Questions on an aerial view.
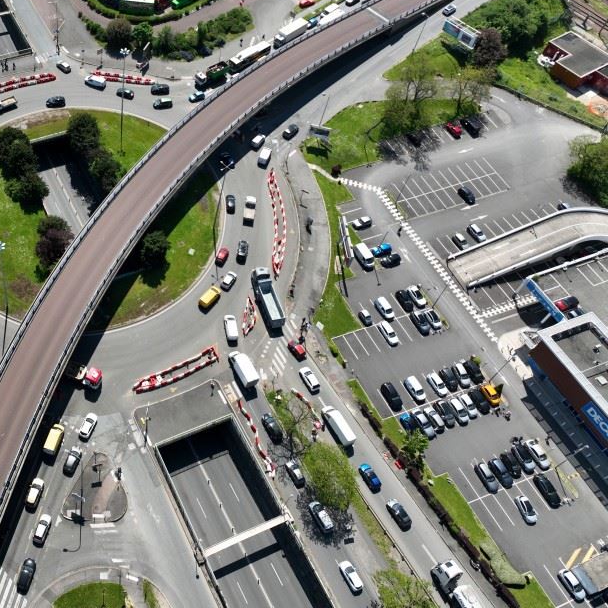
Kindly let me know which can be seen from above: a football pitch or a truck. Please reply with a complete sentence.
Looking from above, you can make out a truck.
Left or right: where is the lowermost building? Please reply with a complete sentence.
You can find the lowermost building on the right side of the picture.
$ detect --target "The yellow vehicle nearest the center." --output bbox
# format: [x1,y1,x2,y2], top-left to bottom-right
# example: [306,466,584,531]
[199,288,220,308]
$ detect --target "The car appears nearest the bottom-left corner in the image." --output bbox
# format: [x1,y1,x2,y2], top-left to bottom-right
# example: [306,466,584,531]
[17,558,36,594]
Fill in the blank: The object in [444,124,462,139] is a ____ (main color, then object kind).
red car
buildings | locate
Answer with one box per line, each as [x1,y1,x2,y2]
[499,312,608,560]
[541,31,608,91]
